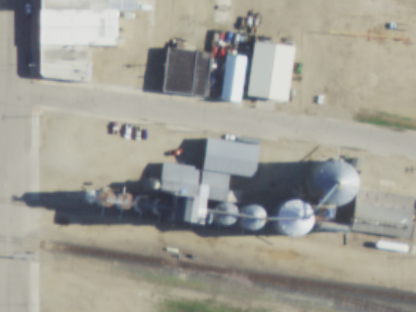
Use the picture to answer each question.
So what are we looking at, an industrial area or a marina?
industrial area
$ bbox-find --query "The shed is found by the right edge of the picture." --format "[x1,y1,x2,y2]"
[353,191,415,236]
